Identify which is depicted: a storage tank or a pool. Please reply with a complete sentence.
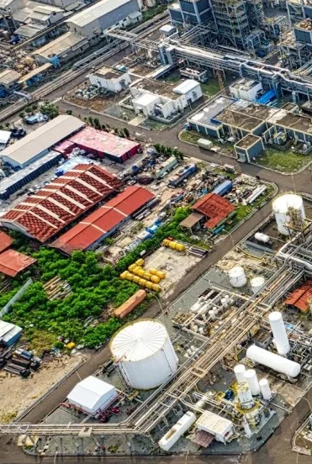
I can see a storage tank in this picture.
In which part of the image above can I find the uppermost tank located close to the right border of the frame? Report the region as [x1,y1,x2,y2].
[270,188,307,235]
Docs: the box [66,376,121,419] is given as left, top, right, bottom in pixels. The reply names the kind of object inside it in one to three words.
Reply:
shed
